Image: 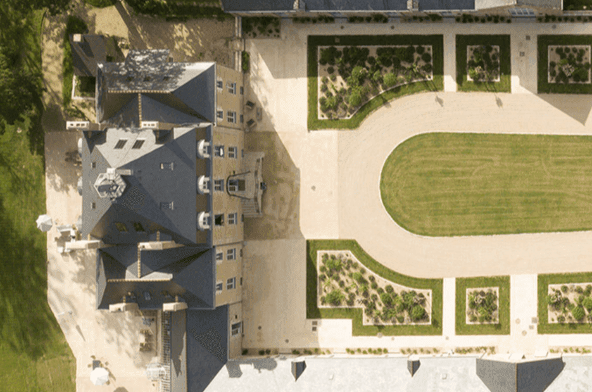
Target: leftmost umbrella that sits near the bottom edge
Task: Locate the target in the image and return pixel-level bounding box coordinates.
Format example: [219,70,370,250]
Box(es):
[91,367,110,385]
